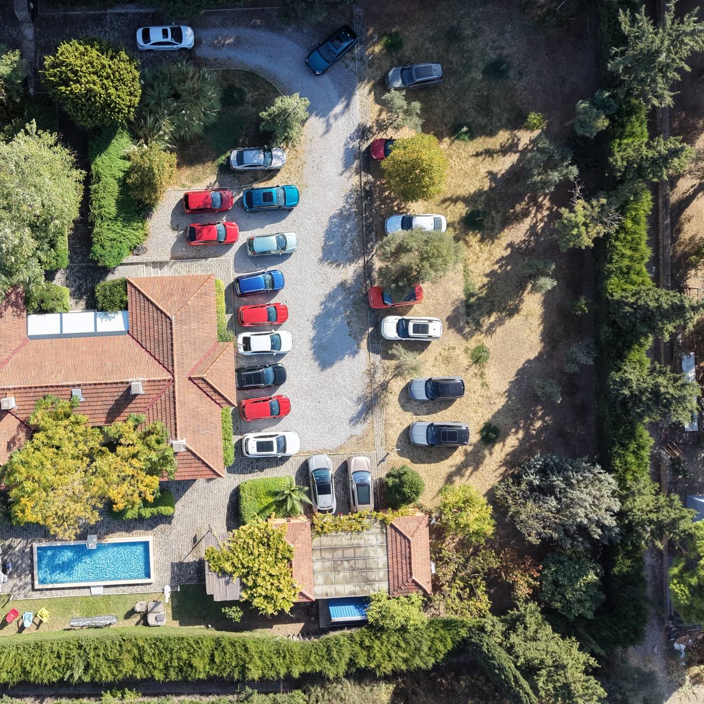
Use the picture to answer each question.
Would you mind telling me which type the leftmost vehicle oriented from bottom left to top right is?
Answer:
automobile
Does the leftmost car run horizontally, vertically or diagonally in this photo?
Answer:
horizontally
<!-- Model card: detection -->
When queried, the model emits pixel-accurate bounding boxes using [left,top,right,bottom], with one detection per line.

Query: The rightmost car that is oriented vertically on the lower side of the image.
[346,453,374,511]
